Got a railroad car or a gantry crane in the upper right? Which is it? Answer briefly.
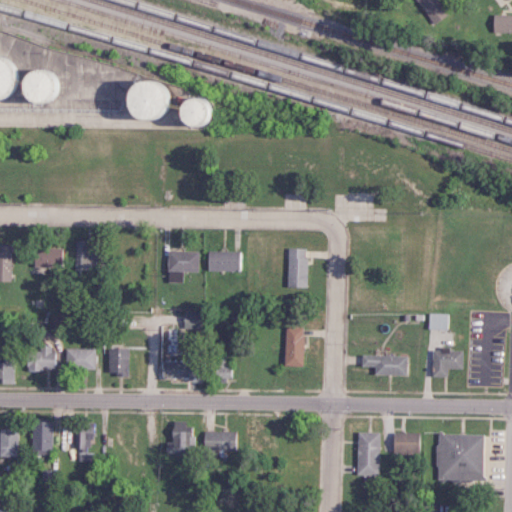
railroad car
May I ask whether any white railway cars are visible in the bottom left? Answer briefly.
No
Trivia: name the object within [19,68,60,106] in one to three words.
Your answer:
storage tank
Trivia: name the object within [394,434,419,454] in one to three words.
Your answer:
house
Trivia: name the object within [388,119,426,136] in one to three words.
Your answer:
rail car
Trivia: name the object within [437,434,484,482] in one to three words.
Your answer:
building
